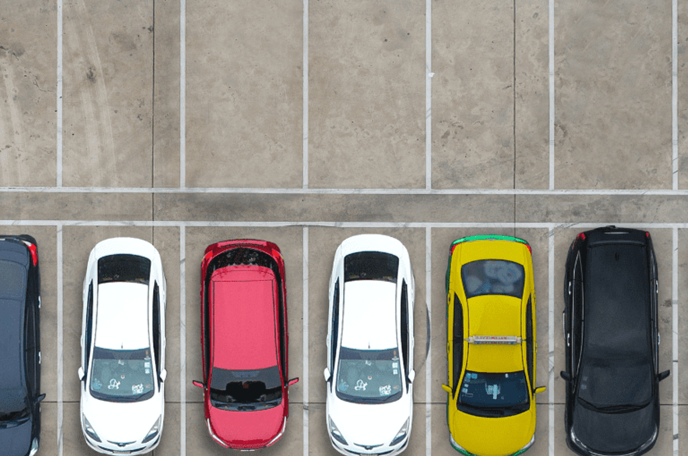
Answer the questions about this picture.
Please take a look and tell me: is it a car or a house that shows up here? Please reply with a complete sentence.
The image shows a car.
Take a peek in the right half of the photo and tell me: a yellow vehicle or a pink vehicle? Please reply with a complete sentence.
It is a yellow vehicle that can be seen in the right half of the photo.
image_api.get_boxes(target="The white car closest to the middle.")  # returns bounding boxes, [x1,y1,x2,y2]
[320,233,419,456]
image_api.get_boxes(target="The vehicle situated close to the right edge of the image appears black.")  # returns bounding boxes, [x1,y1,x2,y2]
[558,224,671,456]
